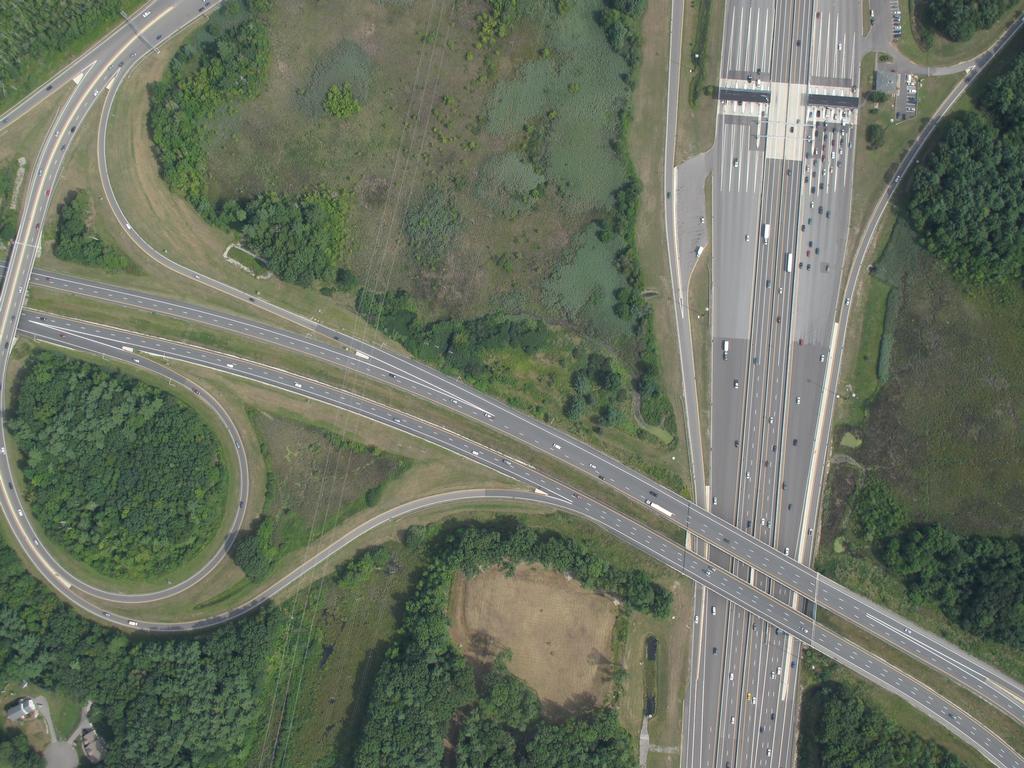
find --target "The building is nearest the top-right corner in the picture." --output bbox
[876,71,896,95]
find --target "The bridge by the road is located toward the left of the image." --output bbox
[0,243,37,349]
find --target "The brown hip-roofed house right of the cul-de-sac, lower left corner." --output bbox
[79,729,101,763]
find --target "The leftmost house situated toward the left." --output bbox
[5,698,41,721]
